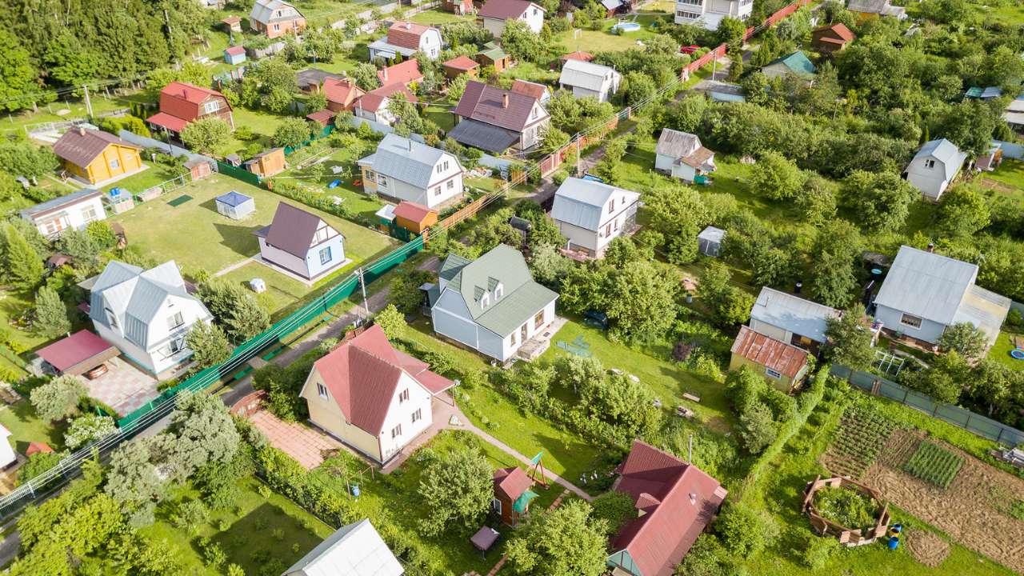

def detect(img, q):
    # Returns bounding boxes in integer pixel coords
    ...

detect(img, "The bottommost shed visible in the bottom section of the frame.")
[280,518,404,576]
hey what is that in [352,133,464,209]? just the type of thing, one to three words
house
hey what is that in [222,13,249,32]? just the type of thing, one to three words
shed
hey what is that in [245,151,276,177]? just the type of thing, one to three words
shed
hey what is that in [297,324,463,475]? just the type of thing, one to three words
house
